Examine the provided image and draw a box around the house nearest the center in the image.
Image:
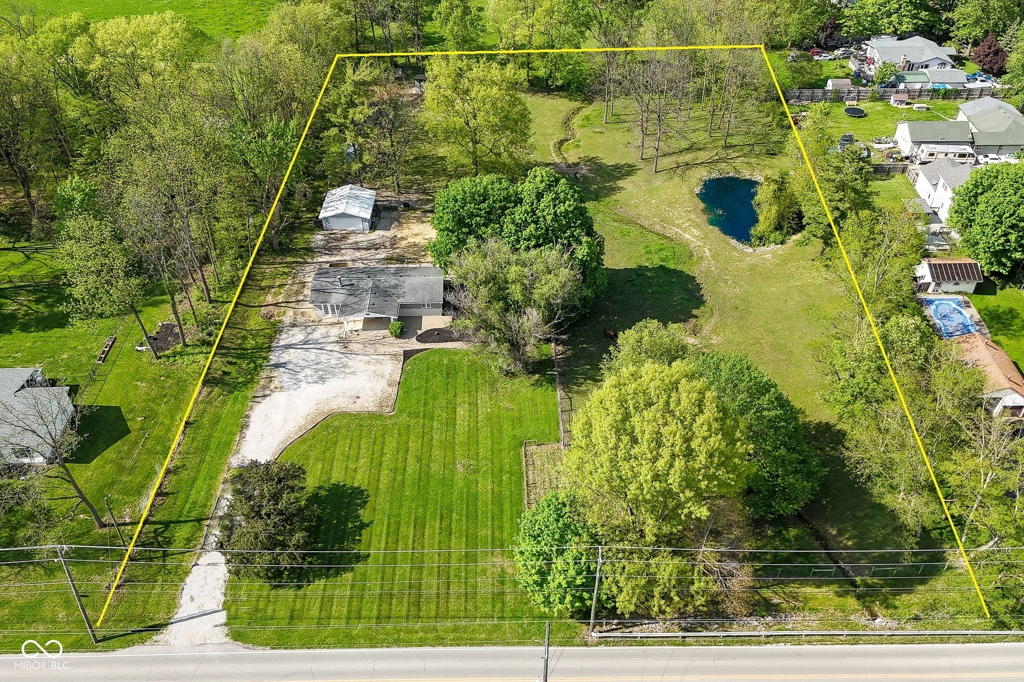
[308,267,447,340]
